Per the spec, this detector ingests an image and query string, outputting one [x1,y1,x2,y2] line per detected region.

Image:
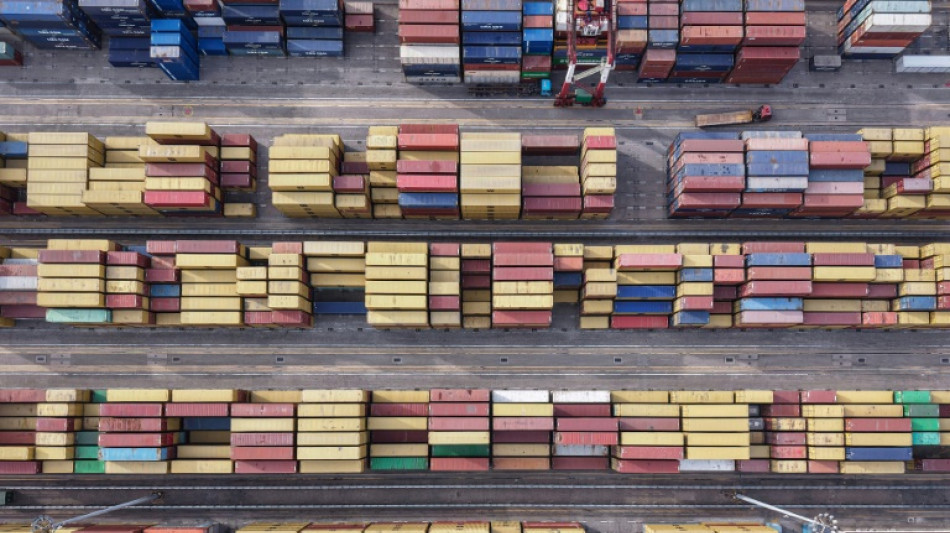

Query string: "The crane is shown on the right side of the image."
[553,0,619,104]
